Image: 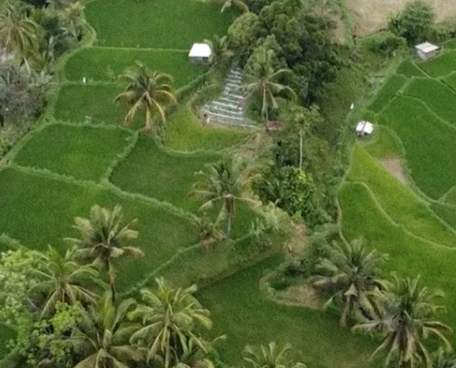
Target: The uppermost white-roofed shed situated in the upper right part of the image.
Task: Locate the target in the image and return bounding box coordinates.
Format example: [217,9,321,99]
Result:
[417,43,443,64]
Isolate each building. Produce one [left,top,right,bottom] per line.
[417,43,443,64]
[190,49,212,71]
[357,123,376,140]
